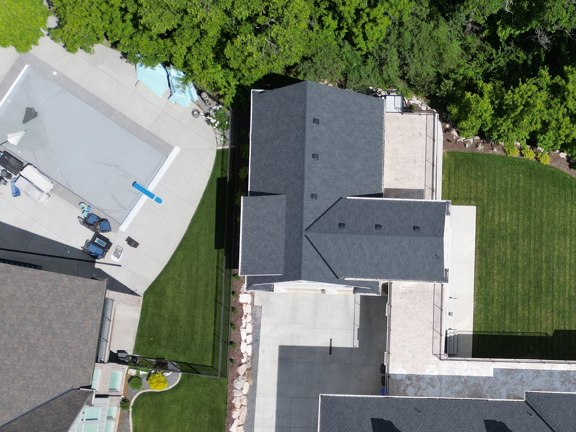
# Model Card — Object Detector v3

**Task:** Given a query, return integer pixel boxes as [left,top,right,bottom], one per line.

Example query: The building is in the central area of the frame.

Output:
[238,80,453,298]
